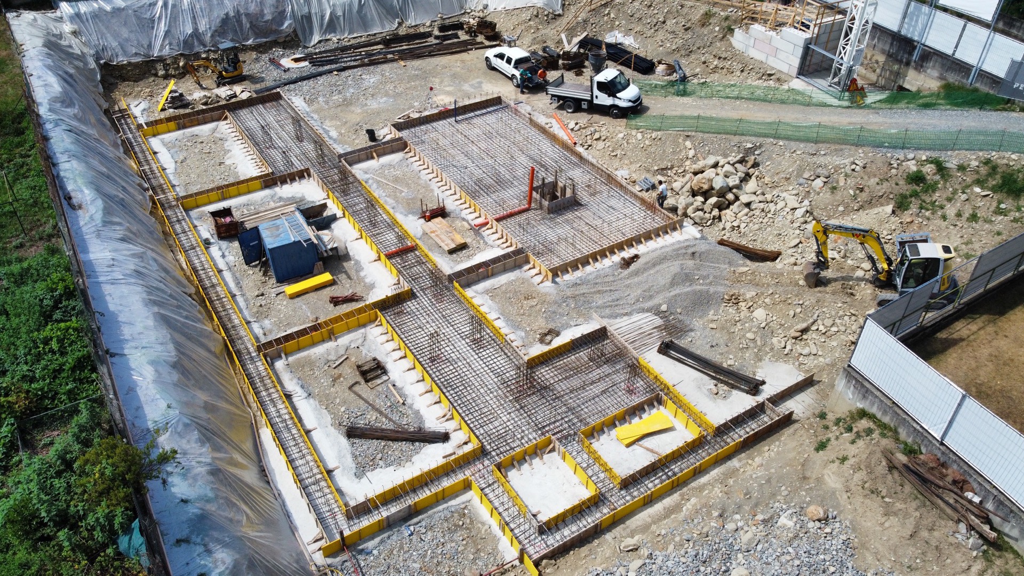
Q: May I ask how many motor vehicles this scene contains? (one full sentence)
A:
In total, there are 4 motor vehicles in the scene.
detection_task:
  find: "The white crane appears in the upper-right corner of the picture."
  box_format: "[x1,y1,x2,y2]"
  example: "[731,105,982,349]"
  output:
[827,0,884,88]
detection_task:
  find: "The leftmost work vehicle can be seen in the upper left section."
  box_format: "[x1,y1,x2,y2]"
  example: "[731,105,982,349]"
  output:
[184,43,243,85]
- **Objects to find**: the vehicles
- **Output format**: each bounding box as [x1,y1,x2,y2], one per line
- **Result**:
[184,43,243,85]
[540,71,648,119]
[491,48,549,87]
[801,218,962,312]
